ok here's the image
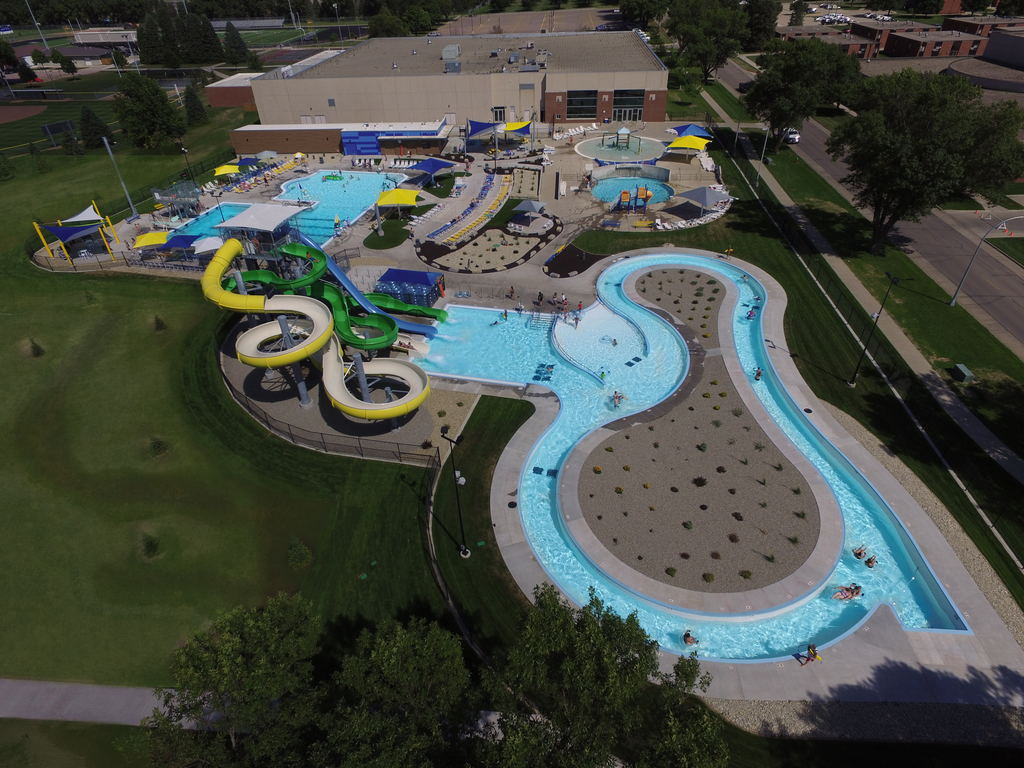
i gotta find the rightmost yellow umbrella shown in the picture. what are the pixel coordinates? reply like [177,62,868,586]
[665,136,713,161]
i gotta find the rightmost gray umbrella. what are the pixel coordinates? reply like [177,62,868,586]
[669,187,740,214]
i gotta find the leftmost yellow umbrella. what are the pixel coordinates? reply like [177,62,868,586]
[132,232,171,249]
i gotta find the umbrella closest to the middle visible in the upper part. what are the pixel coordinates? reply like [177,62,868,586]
[510,200,548,225]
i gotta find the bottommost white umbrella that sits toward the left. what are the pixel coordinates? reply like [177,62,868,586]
[193,236,225,256]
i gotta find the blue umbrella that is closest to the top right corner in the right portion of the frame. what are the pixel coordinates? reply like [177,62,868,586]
[669,124,715,138]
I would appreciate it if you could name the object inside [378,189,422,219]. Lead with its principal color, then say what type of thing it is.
yellow umbrella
